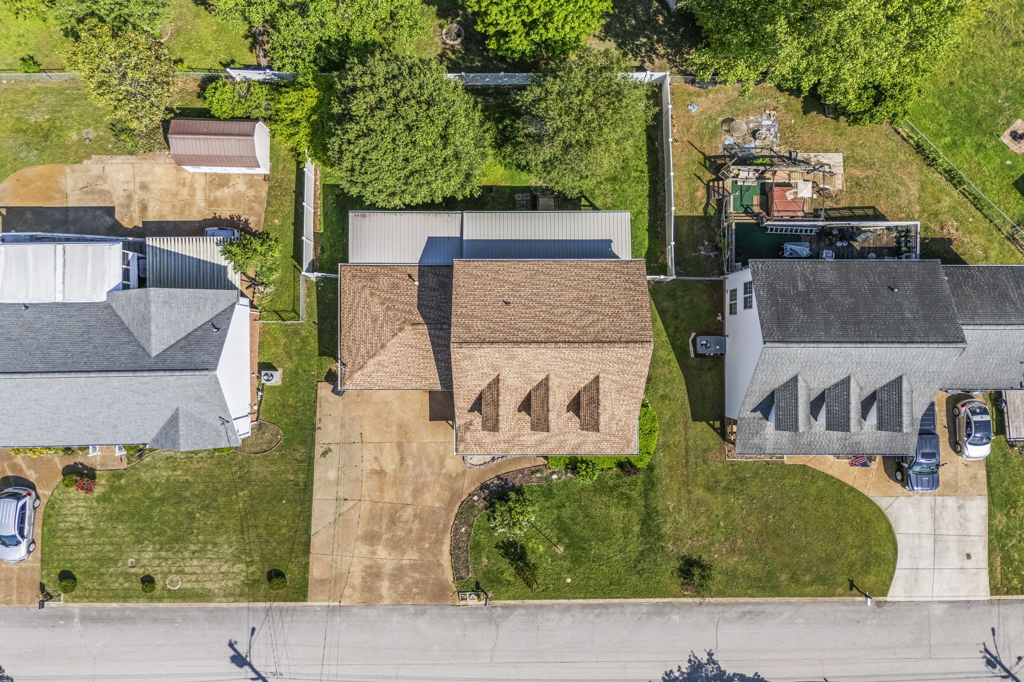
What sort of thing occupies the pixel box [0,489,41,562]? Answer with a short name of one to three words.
car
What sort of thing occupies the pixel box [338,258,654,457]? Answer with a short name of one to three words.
house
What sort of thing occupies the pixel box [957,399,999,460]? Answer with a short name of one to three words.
car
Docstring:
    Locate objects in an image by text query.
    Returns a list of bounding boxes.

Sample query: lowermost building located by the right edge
[722,258,1024,456]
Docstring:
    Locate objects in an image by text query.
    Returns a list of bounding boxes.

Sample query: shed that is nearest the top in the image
[170,119,269,178]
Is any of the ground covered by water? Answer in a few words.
No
